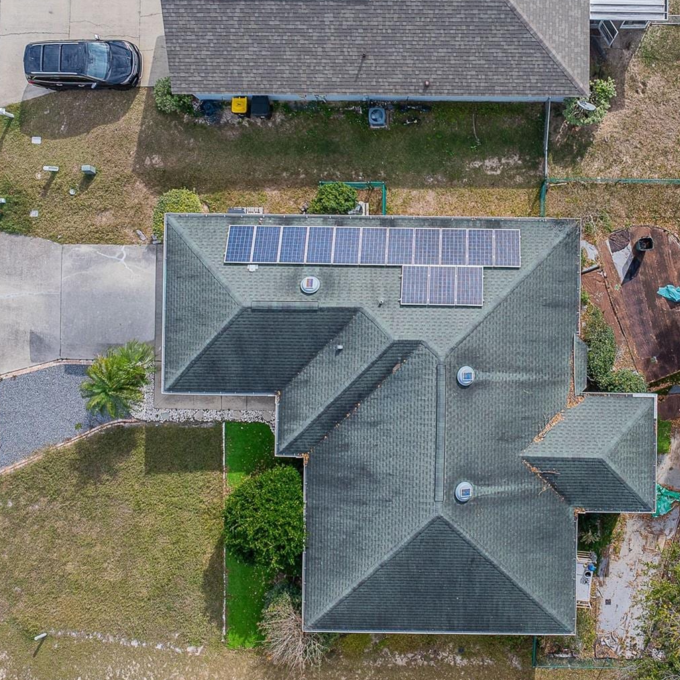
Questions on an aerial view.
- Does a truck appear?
No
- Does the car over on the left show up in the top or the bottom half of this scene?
top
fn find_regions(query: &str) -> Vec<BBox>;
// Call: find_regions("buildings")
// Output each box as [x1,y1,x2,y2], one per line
[150,0,668,101]
[161,216,658,633]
